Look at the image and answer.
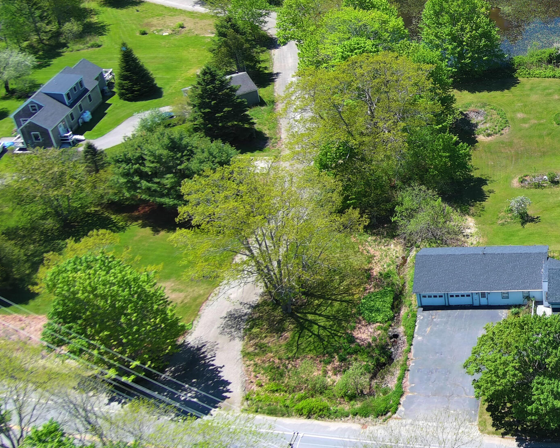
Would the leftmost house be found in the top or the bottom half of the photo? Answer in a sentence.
Seen from above, the leftmost house lies in the top half of the view.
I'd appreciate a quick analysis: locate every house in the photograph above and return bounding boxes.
[7,55,119,148]
[413,245,560,332]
